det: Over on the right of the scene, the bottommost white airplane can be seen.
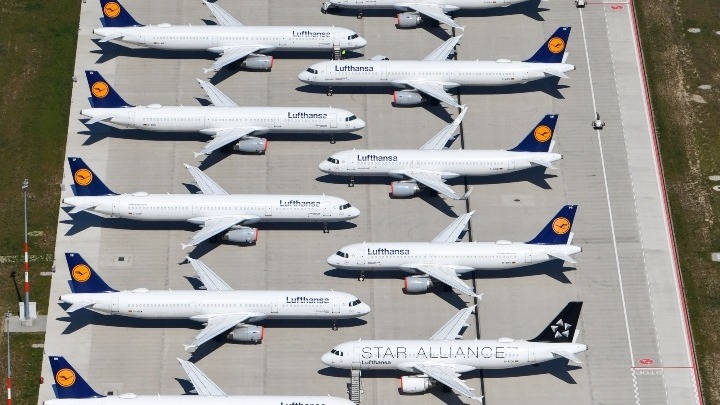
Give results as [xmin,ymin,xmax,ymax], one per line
[321,301,590,401]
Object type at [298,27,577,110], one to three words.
airplane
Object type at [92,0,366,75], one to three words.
airplane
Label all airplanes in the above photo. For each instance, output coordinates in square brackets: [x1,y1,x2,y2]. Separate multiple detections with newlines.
[61,158,359,249]
[298,27,577,110]
[326,206,584,300]
[92,0,366,75]
[319,105,565,200]
[321,301,590,401]
[329,0,518,29]
[59,253,370,350]
[79,71,365,157]
[44,356,358,405]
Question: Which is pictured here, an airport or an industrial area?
airport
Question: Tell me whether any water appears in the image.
No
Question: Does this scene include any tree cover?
No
